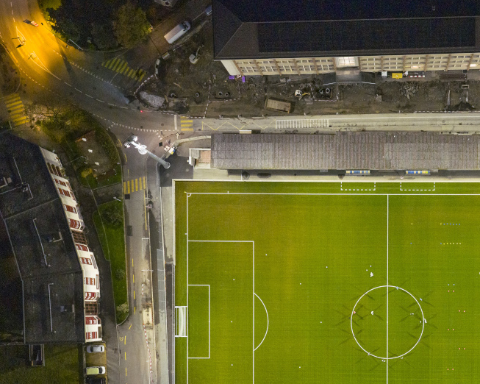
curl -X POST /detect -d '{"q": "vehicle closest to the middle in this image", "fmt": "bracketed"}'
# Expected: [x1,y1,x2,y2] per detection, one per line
[266,97,293,114]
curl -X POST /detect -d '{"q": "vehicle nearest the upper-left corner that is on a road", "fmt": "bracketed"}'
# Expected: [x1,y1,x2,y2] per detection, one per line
[164,22,188,41]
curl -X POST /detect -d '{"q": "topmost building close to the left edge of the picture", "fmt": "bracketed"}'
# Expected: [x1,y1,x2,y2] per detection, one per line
[0,131,101,344]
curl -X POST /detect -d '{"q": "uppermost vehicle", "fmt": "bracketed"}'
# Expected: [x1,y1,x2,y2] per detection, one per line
[201,3,213,18]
